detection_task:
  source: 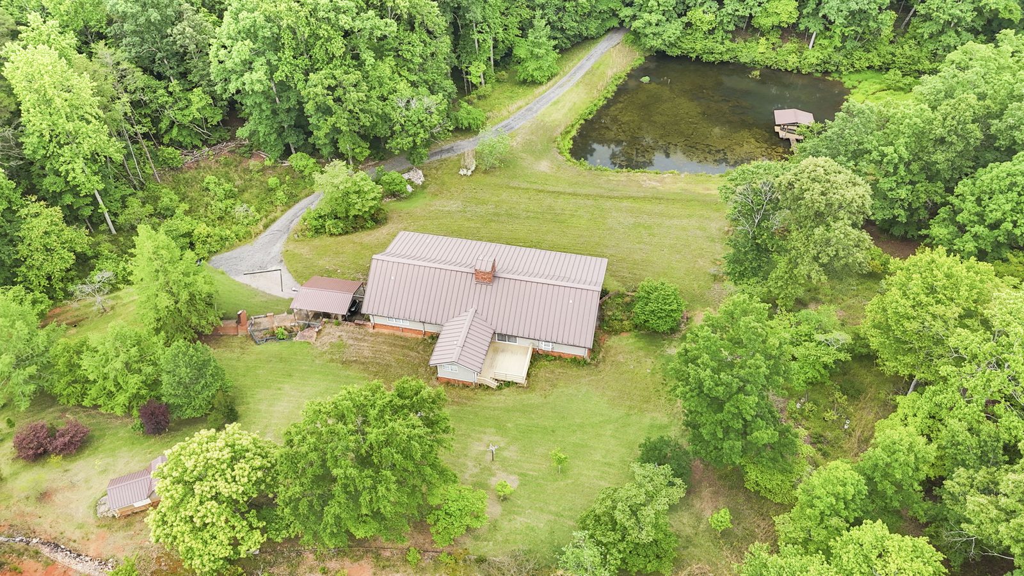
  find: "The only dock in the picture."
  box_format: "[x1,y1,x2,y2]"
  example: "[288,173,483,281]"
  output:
[771,107,815,153]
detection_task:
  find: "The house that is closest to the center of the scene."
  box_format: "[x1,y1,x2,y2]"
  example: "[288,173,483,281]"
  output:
[362,230,606,392]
